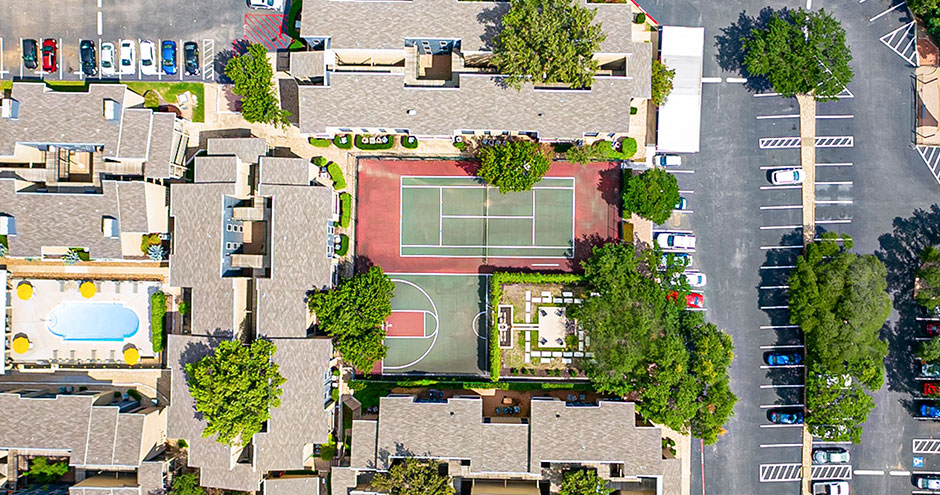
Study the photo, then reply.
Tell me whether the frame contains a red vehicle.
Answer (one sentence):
Yes, a red vehicle can be made out from above.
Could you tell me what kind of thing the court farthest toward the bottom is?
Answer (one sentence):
The court farthest toward the bottom appears to be a basketball court.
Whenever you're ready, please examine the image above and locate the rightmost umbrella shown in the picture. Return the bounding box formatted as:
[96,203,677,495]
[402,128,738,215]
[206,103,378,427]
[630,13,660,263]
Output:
[124,346,142,362]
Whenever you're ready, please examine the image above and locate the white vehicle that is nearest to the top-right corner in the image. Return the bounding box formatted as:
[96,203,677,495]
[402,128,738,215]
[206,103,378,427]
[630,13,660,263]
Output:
[769,167,804,184]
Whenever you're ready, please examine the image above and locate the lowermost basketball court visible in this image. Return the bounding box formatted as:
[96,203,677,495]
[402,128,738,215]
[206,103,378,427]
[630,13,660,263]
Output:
[387,274,489,375]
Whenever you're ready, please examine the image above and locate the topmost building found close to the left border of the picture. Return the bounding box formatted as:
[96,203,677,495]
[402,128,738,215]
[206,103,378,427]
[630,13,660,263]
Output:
[0,83,195,262]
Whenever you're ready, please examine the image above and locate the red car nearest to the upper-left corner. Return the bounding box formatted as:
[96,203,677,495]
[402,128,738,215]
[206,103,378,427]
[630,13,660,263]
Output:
[39,39,60,73]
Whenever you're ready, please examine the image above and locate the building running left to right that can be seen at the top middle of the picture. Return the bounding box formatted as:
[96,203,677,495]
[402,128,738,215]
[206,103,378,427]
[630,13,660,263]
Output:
[289,0,652,145]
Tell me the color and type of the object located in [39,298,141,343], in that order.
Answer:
white swimming pool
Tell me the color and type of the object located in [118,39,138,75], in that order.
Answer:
white car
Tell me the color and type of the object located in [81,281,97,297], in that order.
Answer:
yellow umbrella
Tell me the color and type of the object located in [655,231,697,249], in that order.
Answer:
white vehicle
